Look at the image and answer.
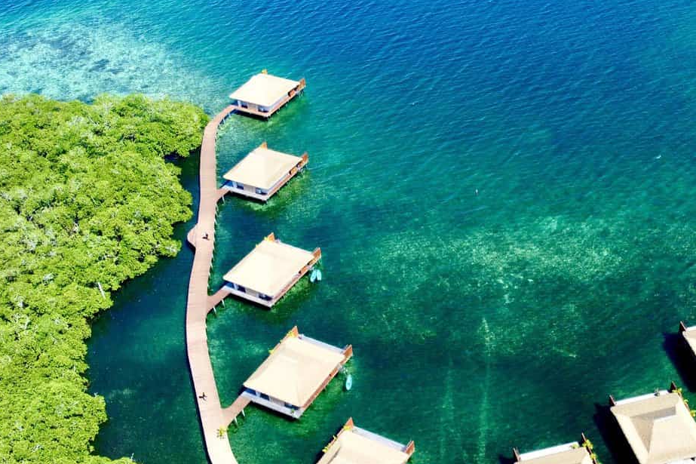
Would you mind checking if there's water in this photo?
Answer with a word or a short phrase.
Yes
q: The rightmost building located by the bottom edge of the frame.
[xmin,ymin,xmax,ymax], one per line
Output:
[608,383,696,464]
